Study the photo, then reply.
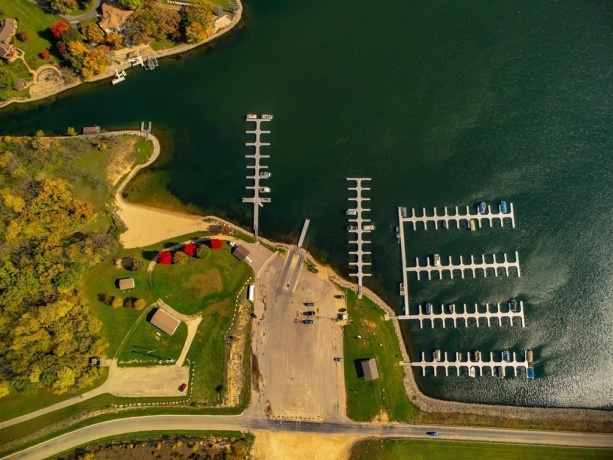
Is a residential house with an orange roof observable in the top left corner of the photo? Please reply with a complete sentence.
Yes, I can see a residential house with an orange roof in the top left corner of the photo.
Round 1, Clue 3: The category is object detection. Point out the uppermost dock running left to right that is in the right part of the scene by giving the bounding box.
[402,203,517,231]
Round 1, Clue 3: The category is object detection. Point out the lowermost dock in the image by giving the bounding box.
[399,351,530,377]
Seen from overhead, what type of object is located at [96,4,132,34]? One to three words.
house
